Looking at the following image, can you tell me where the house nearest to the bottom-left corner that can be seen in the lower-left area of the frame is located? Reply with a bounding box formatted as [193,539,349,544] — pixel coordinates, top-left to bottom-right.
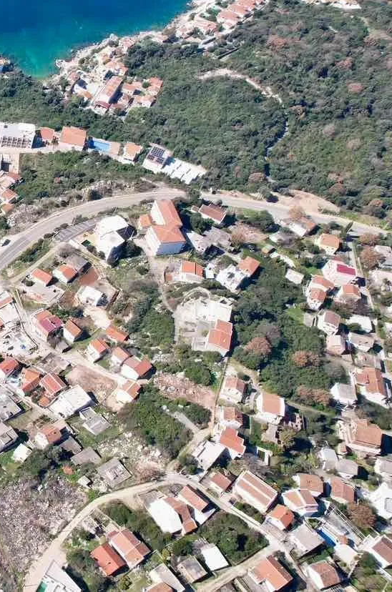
[32,560,80,592]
